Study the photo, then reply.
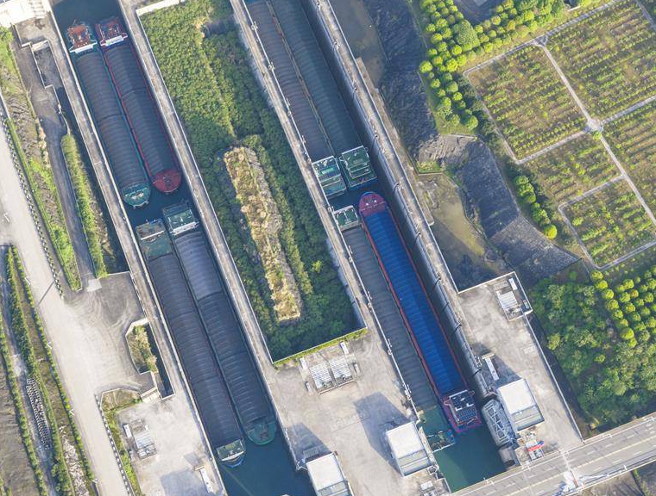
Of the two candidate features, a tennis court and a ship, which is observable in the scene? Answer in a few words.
ship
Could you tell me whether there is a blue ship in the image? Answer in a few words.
Yes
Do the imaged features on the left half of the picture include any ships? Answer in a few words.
Yes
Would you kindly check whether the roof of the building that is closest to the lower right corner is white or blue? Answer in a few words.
white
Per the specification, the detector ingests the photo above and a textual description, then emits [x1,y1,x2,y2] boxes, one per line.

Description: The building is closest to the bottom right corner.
[494,377,544,434]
